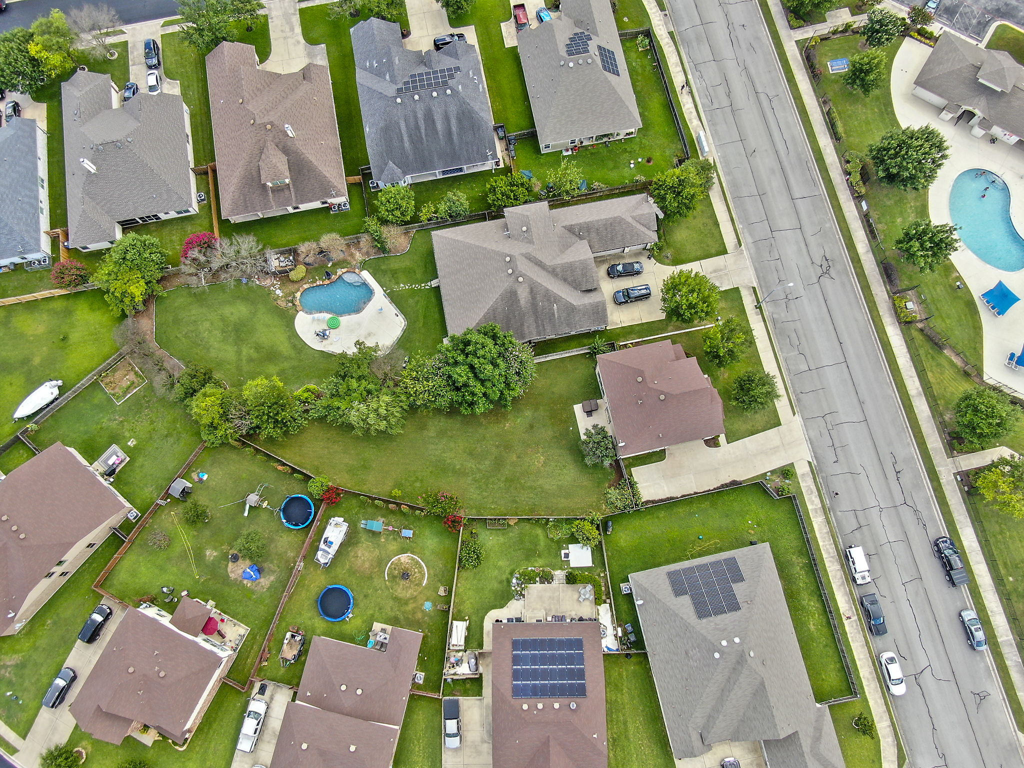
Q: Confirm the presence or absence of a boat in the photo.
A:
Yes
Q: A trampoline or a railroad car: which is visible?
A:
trampoline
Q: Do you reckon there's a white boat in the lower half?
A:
Yes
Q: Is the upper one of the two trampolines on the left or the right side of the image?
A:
left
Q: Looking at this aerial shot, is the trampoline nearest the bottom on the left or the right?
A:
left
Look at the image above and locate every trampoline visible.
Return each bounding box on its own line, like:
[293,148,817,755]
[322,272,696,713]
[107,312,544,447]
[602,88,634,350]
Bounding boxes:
[318,584,354,621]
[281,494,315,528]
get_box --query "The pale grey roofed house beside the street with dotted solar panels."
[628,542,846,768]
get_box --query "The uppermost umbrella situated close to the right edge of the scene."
[980,278,1023,319]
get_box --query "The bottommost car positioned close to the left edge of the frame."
[38,665,78,711]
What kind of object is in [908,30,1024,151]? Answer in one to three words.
building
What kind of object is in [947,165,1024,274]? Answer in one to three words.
swimming pool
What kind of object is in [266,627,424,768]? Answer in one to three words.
house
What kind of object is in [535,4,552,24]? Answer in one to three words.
car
